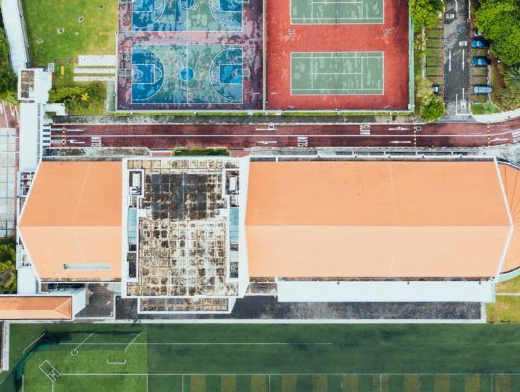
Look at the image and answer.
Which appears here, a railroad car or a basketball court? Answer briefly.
basketball court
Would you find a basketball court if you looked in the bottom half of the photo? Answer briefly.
No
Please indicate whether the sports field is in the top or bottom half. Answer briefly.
bottom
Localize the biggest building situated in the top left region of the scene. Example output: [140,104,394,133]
[18,70,62,102]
